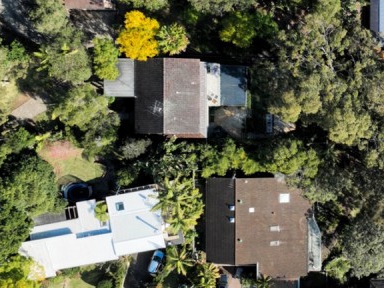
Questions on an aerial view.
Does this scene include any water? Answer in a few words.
No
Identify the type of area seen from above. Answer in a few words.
residential area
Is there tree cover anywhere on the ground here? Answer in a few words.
Yes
